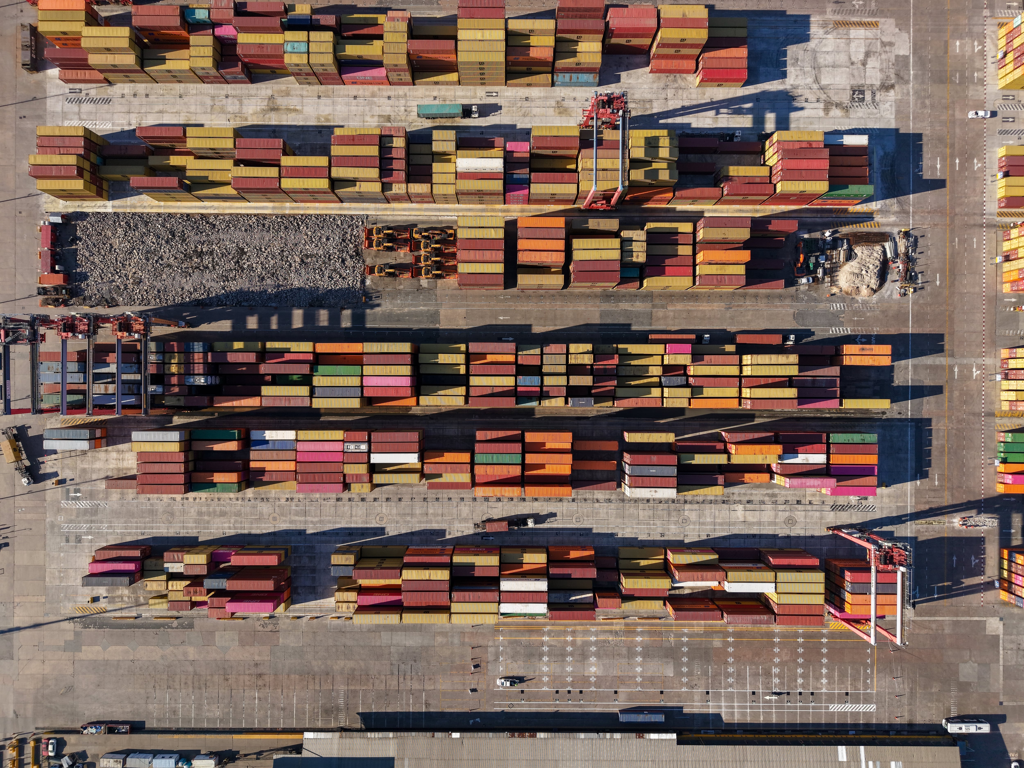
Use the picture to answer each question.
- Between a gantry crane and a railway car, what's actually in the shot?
gantry crane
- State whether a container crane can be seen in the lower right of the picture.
Yes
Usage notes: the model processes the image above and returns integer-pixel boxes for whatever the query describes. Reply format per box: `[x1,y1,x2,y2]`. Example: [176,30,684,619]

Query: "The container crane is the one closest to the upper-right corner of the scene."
[577,84,635,214]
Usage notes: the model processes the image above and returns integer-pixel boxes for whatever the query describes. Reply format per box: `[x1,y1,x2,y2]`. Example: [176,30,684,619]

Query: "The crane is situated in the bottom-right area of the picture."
[823,530,911,649]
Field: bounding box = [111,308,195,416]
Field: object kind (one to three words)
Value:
container crane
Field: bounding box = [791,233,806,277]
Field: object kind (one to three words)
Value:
work vehicle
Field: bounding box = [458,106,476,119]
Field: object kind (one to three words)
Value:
vehicle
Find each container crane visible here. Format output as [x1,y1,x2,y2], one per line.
[56,308,143,416]
[577,84,635,214]
[0,308,89,415]
[111,308,195,416]
[823,530,911,649]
